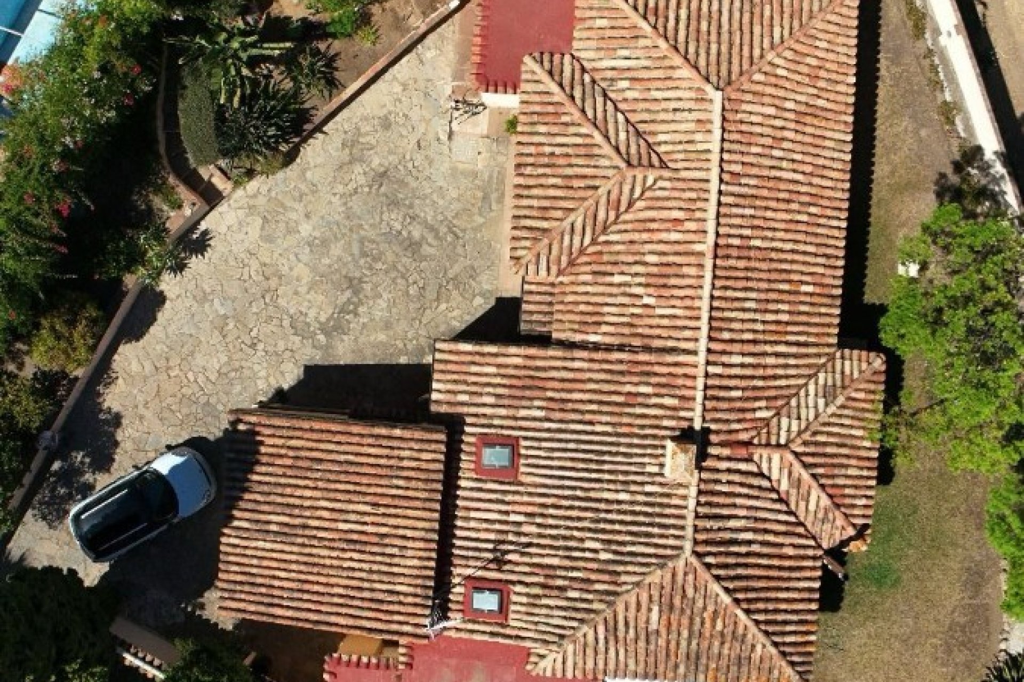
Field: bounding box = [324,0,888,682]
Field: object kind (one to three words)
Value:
house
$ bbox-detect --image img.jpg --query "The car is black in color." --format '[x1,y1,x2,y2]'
[67,443,222,561]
